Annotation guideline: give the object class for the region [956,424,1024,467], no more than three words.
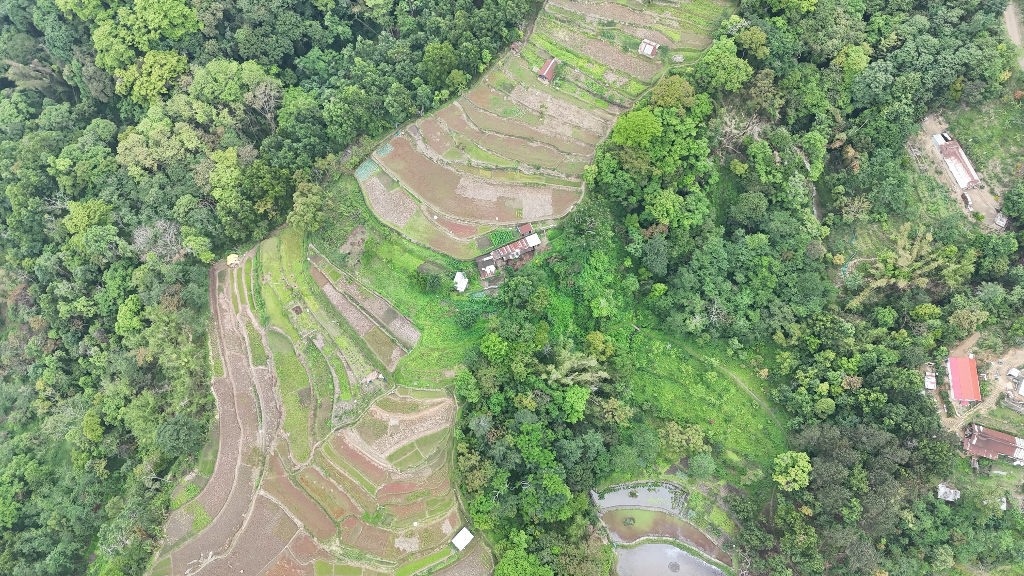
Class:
shed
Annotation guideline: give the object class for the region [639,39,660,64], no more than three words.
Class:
shed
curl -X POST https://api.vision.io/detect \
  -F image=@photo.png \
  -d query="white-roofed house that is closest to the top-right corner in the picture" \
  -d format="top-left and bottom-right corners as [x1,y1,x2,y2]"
[929,132,980,191]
